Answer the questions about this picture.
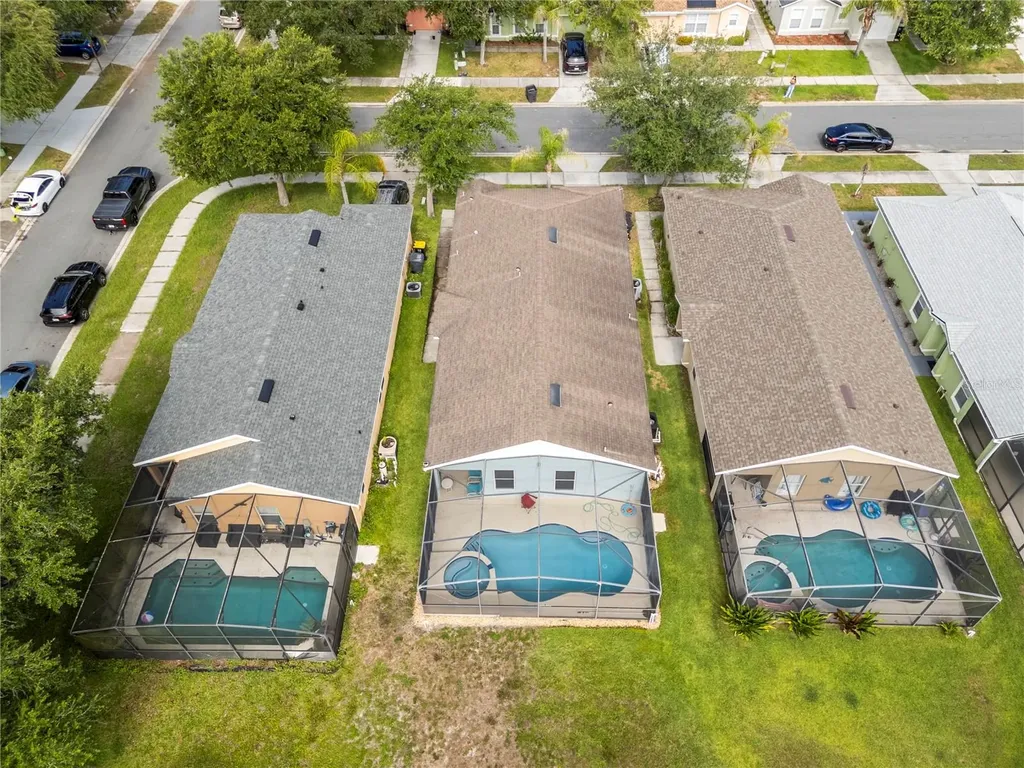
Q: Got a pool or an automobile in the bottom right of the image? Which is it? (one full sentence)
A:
What appears in the bottom right of the image is a pool.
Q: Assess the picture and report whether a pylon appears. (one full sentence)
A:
No, there's no pylon here.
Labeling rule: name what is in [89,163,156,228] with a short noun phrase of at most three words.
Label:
truck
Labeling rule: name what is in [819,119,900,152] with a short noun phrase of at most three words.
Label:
car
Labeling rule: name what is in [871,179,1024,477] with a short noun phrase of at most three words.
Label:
house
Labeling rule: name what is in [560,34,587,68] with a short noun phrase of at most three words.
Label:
car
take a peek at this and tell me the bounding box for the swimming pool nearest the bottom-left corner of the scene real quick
[136,558,328,633]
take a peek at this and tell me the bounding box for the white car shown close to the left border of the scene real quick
[0,166,64,215]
